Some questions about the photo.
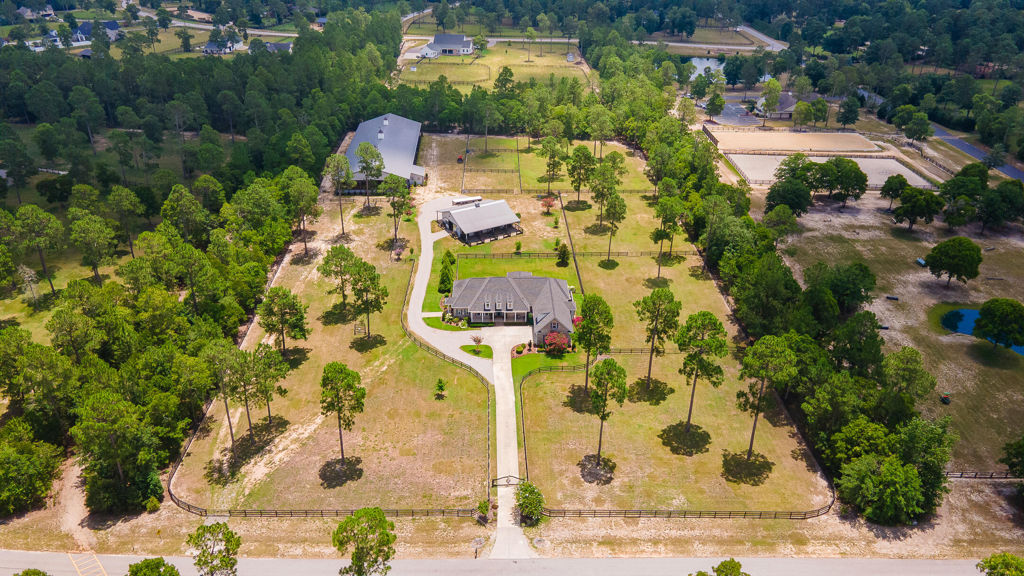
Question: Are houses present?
Yes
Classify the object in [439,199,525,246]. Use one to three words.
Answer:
building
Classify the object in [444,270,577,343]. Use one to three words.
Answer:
house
